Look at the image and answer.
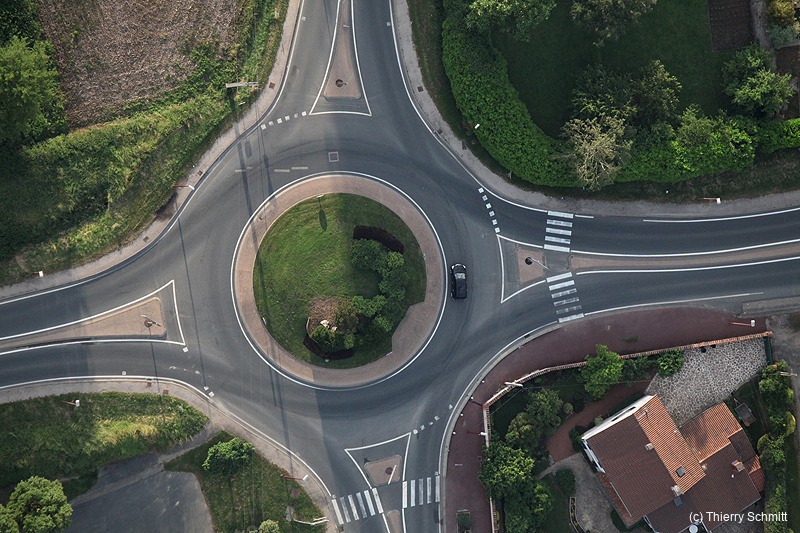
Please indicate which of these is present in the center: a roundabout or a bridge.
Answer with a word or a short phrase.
roundabout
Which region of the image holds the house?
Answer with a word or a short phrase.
bottom right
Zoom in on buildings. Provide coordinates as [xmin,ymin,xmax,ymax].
[584,393,764,533]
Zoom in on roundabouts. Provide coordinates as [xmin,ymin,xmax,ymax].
[172,111,505,450]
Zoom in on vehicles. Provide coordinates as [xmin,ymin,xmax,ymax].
[452,264,470,299]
